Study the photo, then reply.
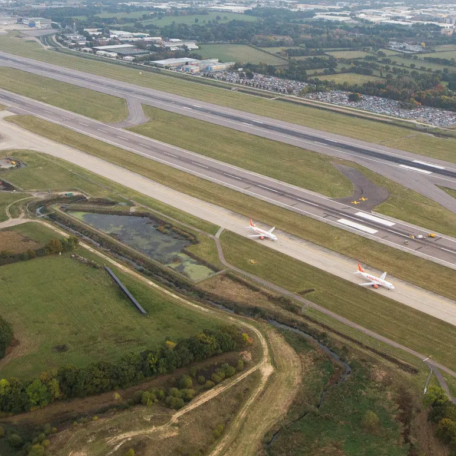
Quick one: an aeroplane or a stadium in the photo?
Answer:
aeroplane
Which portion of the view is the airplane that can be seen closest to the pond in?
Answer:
center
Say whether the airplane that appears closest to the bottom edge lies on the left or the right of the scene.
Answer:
right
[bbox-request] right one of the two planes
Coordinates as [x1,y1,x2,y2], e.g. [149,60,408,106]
[356,261,394,286]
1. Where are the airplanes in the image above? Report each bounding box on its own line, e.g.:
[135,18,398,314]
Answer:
[356,261,394,286]
[242,215,275,236]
